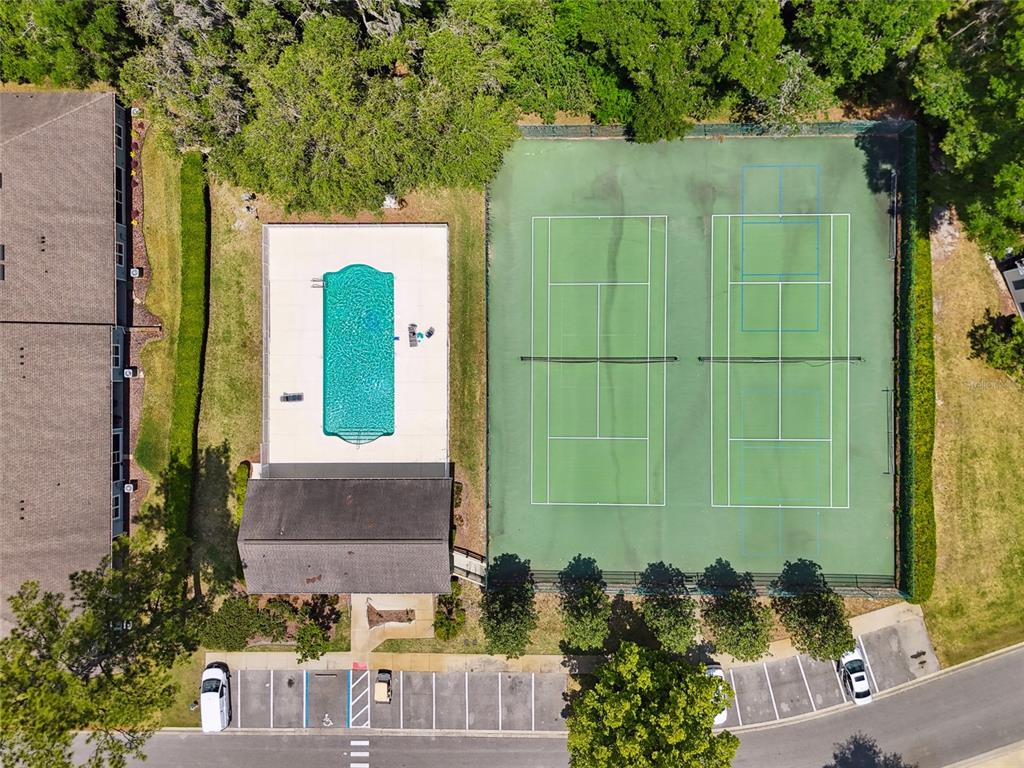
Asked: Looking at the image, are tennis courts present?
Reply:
Yes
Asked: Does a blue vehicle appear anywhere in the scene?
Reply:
No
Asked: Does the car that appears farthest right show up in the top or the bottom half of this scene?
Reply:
bottom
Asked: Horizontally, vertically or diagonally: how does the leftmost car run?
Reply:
vertically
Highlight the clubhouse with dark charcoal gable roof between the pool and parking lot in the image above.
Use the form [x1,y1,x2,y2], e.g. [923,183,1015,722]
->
[238,477,451,598]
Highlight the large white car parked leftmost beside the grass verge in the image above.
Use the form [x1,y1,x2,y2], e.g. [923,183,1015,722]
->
[199,669,231,731]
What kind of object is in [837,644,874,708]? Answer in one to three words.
car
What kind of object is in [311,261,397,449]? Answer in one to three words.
swimming pool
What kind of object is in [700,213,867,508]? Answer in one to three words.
tennis court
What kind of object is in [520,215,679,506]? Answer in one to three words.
tennis court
